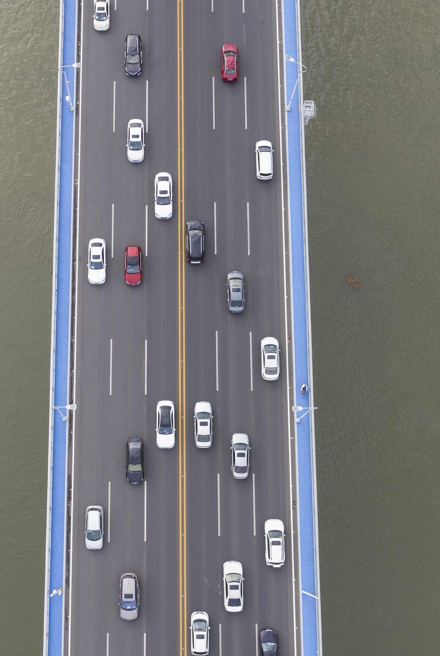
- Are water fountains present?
No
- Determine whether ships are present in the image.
No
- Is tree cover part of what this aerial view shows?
No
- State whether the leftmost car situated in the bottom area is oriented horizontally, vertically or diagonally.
vertically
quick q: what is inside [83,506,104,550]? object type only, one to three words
car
